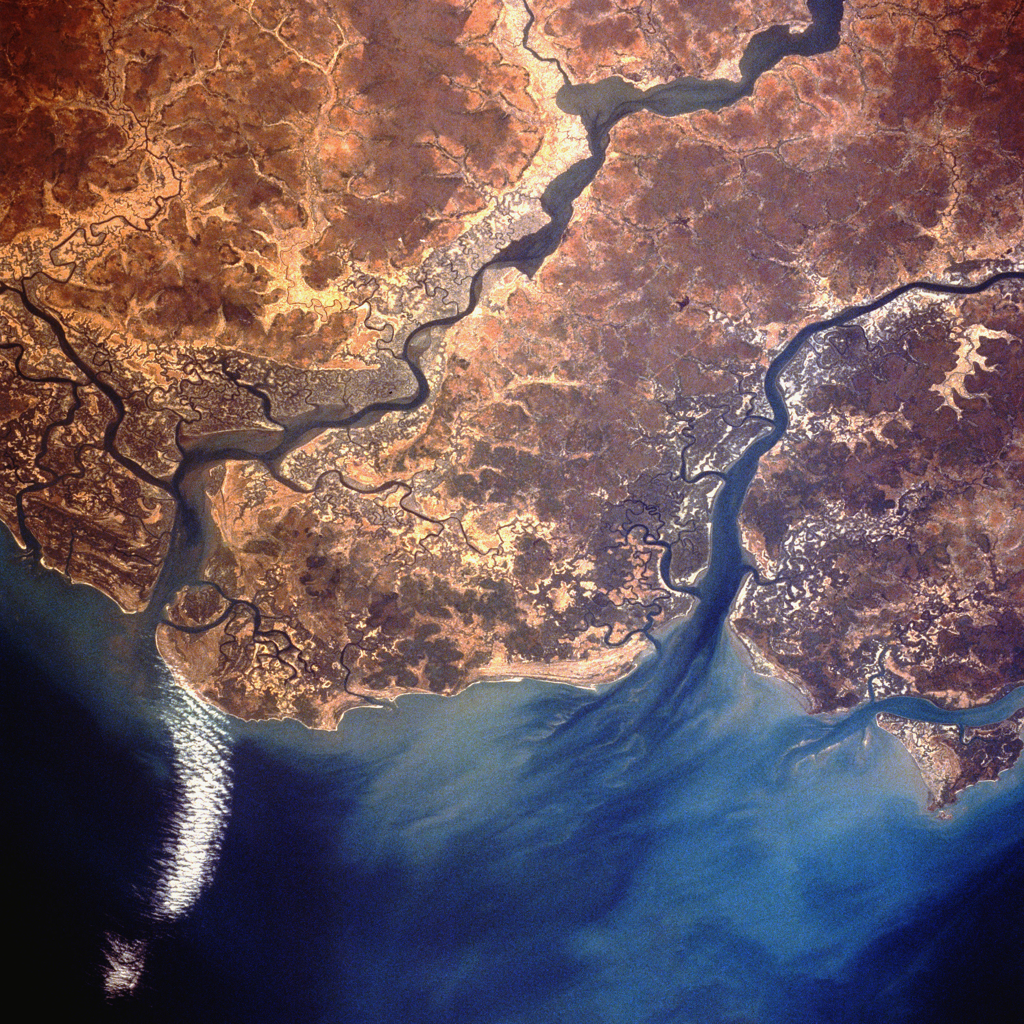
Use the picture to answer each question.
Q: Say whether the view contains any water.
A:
Yes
